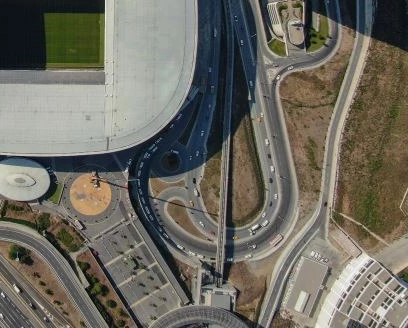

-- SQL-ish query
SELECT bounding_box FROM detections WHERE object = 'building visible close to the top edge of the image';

[265,0,306,55]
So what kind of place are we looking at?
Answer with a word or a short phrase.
sports ground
